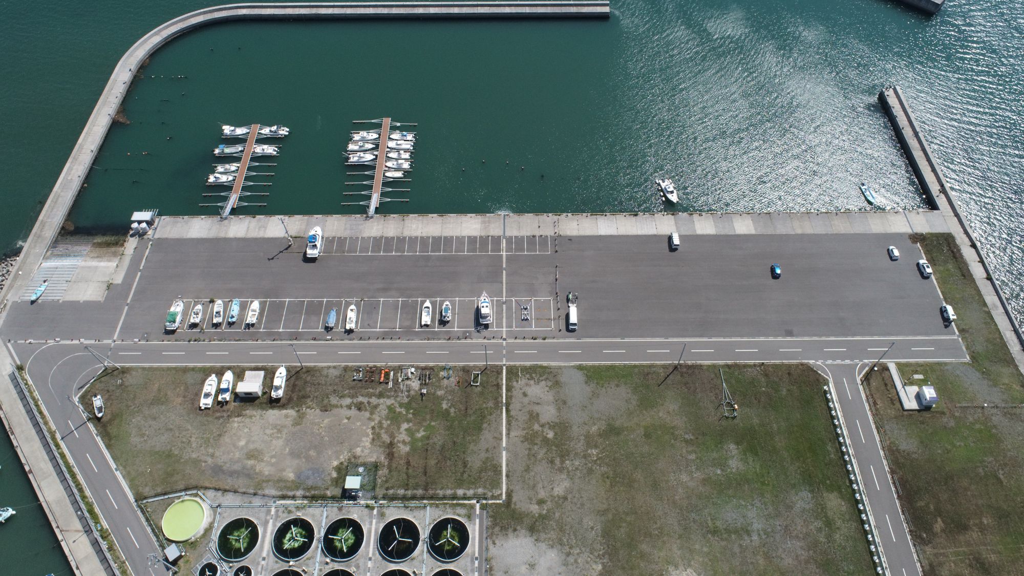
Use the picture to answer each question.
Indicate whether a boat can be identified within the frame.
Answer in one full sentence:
Yes, a boat appears in the view.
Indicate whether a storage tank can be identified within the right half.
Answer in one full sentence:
No, no storage tank can be made out within the right half.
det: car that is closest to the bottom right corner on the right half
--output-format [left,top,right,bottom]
[942,306,957,322]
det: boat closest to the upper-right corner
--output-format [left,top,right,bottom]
[860,183,874,202]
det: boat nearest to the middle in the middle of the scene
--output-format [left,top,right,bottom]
[479,292,492,327]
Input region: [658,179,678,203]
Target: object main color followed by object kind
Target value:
white boat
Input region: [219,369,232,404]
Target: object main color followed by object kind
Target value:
white boat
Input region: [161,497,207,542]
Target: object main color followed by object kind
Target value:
green storage tank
